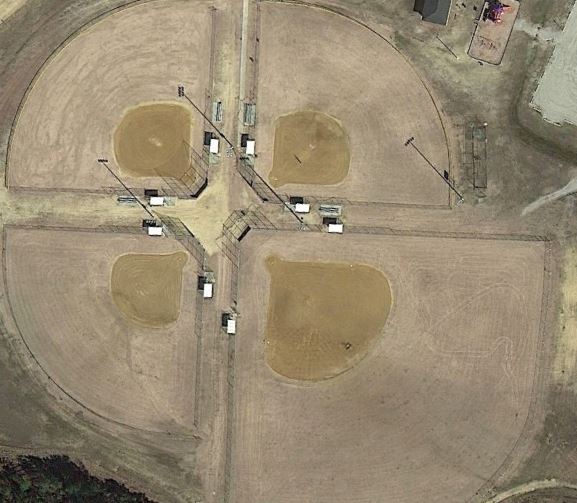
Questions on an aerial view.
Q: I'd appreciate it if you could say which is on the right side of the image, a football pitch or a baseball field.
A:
baseball field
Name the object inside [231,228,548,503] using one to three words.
baseball field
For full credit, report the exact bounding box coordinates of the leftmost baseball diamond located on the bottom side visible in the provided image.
[5,230,205,436]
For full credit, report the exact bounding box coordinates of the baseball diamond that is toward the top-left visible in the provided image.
[8,0,214,198]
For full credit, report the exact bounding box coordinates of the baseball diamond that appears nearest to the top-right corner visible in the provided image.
[251,2,451,208]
